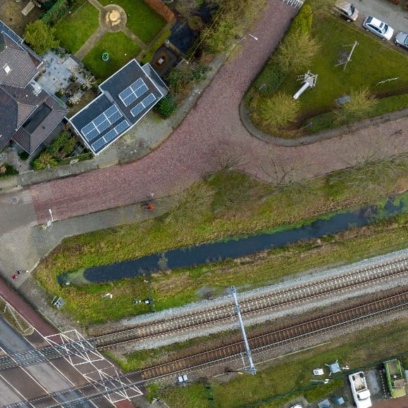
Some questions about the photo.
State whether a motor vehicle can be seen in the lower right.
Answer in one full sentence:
Yes, a motor vehicle appears in the lower right.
